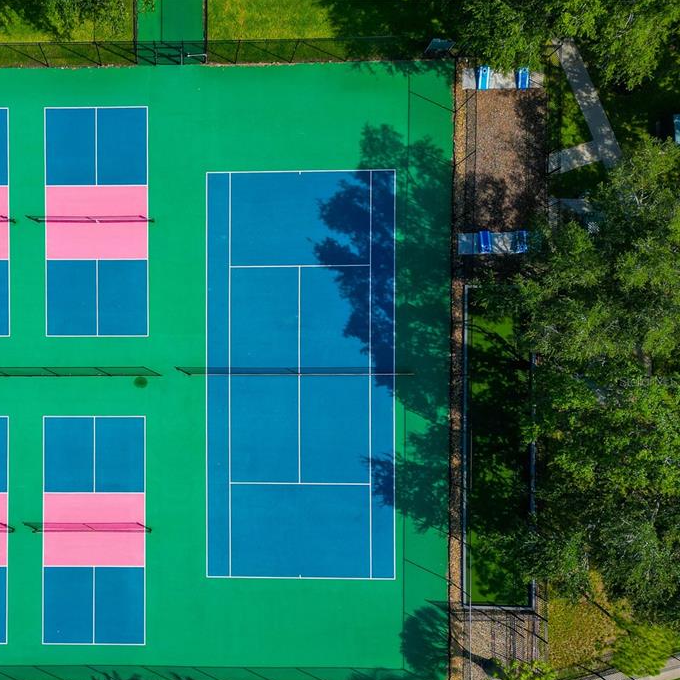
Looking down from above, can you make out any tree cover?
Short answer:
Yes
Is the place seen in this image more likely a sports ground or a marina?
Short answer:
sports ground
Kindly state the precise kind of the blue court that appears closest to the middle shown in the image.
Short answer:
tennis court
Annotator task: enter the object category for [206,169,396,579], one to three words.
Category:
tennis court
